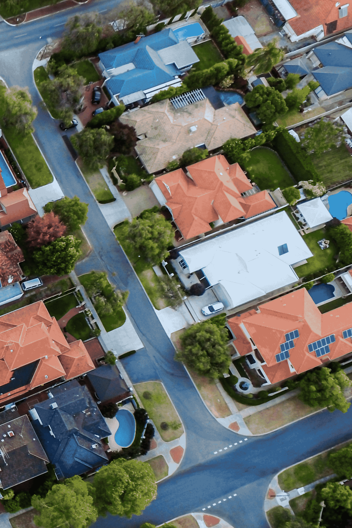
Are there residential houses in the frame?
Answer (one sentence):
Yes, the photo shows a residential house.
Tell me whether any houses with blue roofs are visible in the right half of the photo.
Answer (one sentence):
Yes, I can see a house with a blue roof in the right half of the photo.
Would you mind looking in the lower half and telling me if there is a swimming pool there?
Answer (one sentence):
Yes, a swimming pool can be seen in the lower half.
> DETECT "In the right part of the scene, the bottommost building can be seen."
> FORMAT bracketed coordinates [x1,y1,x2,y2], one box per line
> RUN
[225,285,352,386]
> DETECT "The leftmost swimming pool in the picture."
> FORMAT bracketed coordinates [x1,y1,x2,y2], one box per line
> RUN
[0,146,18,187]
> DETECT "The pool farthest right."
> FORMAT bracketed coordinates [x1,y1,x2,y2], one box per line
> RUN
[327,188,352,219]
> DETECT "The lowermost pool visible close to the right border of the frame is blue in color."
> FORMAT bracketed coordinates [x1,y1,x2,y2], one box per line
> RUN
[306,282,338,306]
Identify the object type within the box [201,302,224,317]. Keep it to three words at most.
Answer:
car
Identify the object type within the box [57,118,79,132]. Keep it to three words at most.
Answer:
car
